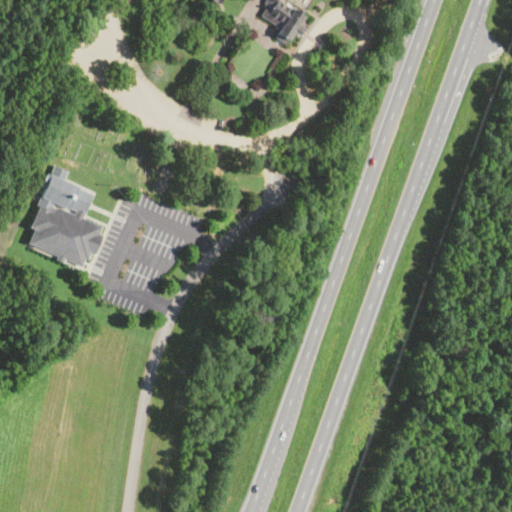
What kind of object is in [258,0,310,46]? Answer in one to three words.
house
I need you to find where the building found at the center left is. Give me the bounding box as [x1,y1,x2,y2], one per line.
[28,167,102,268]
